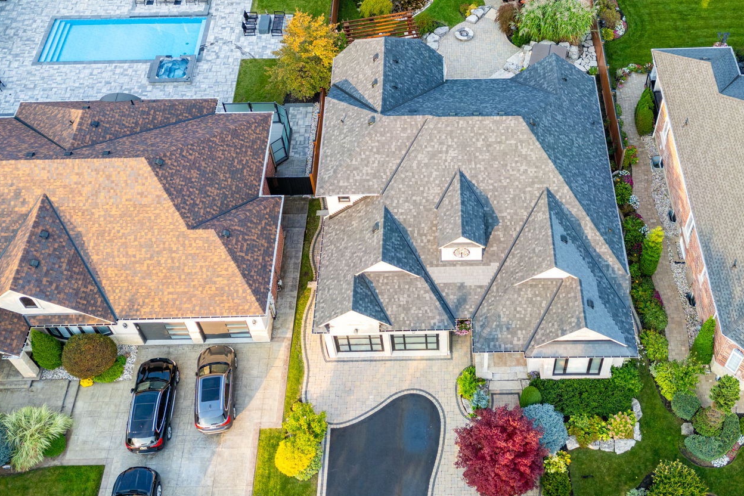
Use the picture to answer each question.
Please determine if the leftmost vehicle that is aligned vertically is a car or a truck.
car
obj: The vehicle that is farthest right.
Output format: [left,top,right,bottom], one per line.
[188,347,237,441]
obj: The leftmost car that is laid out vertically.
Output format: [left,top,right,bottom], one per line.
[119,360,179,461]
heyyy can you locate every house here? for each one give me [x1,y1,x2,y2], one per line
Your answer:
[650,45,744,383]
[0,97,286,386]
[310,36,641,378]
